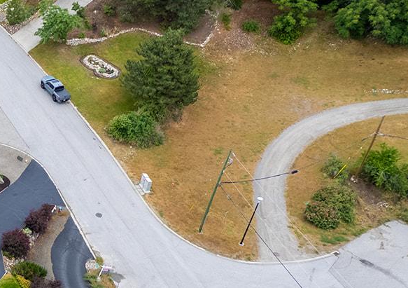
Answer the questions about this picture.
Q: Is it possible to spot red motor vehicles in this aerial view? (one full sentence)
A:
No, the picture doesn't show any red motor vehicle.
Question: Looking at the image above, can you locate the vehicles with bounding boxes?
[38,71,72,100]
